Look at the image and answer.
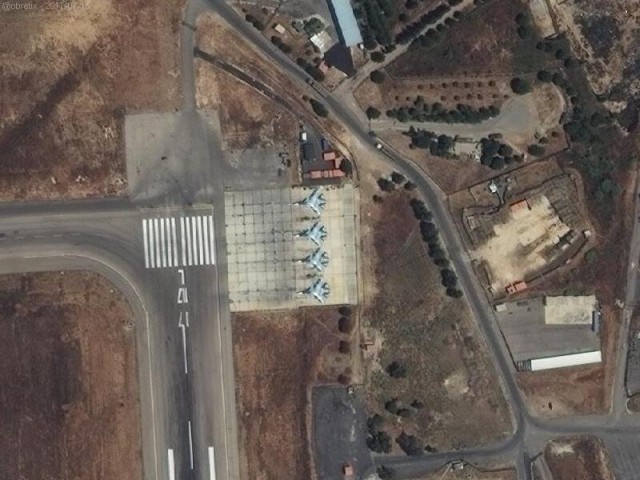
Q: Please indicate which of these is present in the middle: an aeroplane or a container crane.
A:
aeroplane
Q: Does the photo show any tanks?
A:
No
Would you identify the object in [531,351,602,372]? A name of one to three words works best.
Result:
shed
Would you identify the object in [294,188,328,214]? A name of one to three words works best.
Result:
airplane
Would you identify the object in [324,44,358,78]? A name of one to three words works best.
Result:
building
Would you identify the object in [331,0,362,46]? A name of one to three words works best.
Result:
hangar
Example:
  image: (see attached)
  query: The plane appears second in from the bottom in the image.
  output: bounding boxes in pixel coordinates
[296,248,328,273]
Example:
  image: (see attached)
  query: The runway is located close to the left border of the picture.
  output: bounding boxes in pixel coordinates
[0,193,240,480]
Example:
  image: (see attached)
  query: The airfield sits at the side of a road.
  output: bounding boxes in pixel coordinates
[0,0,358,480]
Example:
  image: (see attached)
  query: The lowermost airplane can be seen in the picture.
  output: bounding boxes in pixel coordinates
[297,277,330,303]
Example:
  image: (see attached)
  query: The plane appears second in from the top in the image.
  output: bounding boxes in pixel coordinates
[294,221,328,248]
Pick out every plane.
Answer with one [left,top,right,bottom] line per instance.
[294,221,328,248]
[297,277,330,303]
[294,188,328,214]
[296,248,328,273]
